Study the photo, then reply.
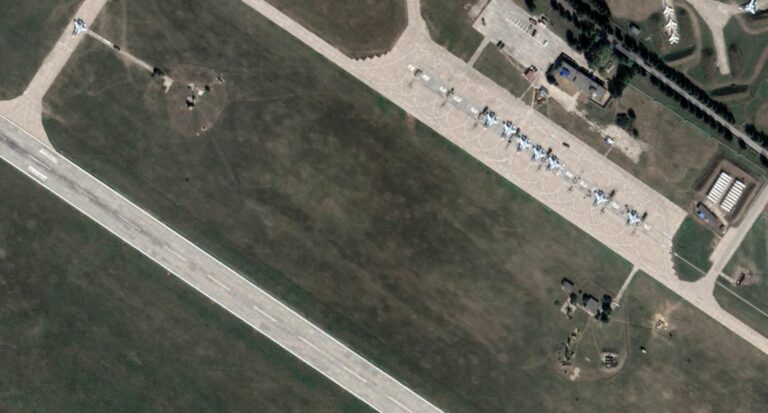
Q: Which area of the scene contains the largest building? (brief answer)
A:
top right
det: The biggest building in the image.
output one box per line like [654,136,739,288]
[558,62,610,106]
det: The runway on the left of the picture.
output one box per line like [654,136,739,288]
[0,114,444,413]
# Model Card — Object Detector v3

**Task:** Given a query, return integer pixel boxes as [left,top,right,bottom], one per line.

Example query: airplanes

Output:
[486,110,498,127]
[669,34,680,46]
[73,16,86,33]
[519,134,531,151]
[663,4,673,17]
[505,121,517,138]
[742,1,760,13]
[533,144,547,161]
[549,154,561,171]
[667,19,676,31]
[596,188,608,205]
[628,208,640,225]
